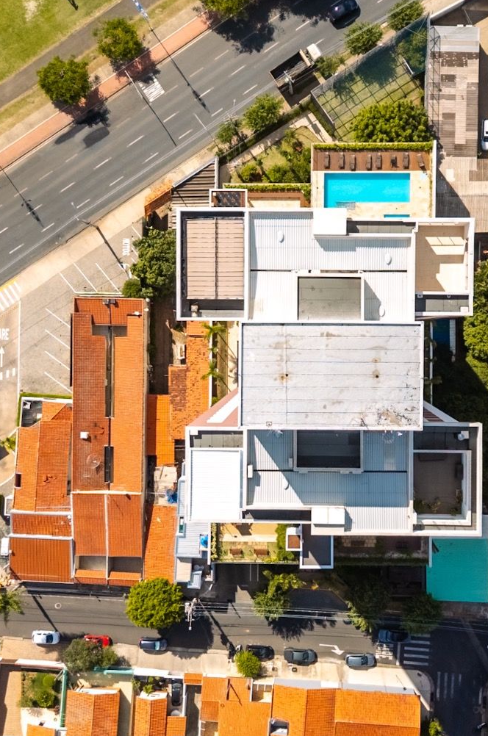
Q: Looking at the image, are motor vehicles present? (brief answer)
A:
Yes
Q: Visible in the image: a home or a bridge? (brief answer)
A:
home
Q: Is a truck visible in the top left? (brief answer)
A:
No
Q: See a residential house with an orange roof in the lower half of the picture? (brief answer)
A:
Yes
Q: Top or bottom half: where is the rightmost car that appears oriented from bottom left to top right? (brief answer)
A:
top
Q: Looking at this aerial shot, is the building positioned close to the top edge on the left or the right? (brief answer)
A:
right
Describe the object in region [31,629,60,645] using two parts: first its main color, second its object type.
white car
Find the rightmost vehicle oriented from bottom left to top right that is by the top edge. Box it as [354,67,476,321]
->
[328,0,359,24]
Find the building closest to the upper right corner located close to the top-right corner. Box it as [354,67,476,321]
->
[429,27,479,162]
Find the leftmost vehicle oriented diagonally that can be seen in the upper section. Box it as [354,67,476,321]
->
[265,40,323,88]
